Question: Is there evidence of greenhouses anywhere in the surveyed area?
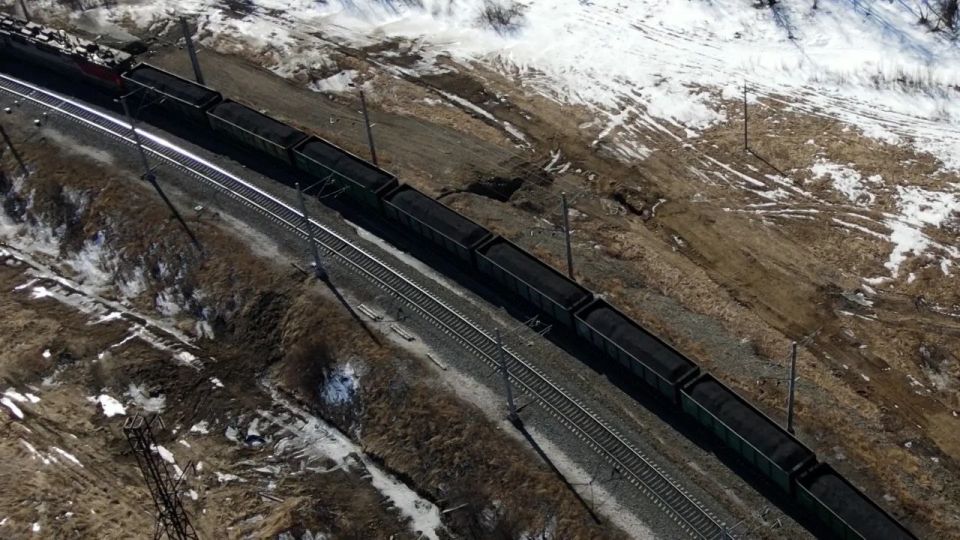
No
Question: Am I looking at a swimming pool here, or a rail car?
rail car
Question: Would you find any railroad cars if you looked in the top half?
Yes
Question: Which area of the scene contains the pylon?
bottom left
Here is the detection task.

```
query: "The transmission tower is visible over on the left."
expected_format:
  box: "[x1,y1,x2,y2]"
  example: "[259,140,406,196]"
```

[127,410,206,540]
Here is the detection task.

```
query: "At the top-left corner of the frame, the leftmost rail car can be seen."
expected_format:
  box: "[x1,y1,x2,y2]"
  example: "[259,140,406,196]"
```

[0,12,138,91]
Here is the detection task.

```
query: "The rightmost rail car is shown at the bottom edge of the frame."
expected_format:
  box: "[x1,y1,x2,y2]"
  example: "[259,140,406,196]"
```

[797,463,922,540]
